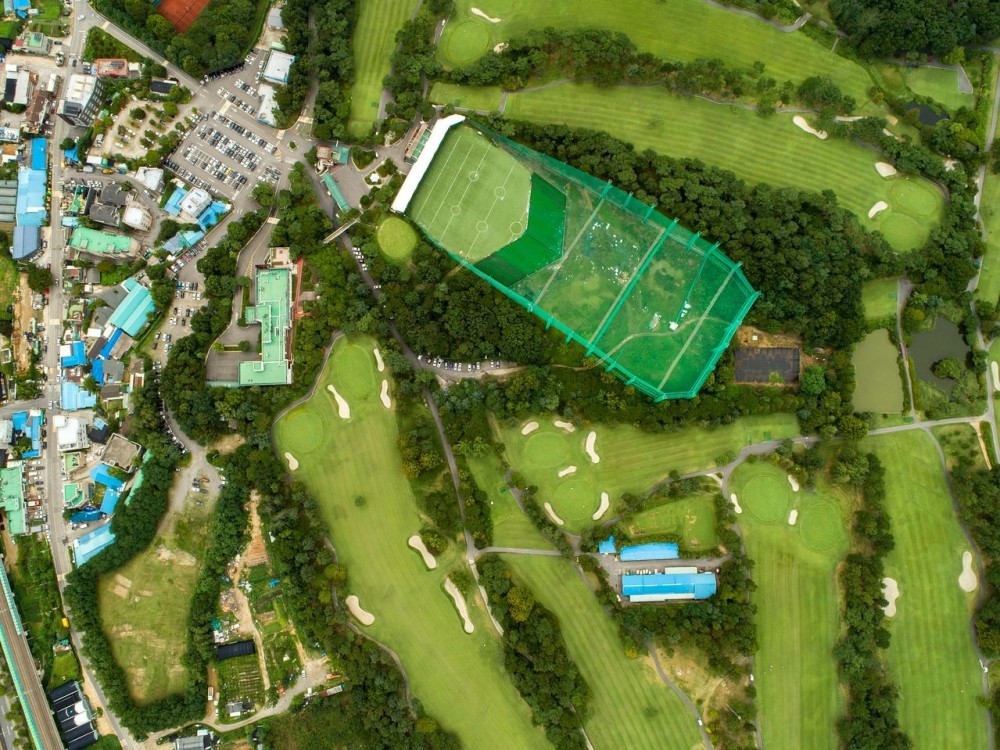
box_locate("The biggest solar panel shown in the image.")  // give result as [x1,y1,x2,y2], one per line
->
[4,79,18,103]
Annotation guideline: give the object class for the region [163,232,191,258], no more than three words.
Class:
shed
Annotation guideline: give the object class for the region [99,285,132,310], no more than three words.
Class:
building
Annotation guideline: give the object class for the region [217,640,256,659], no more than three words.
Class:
greenhouse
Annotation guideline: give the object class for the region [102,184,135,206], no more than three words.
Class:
house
